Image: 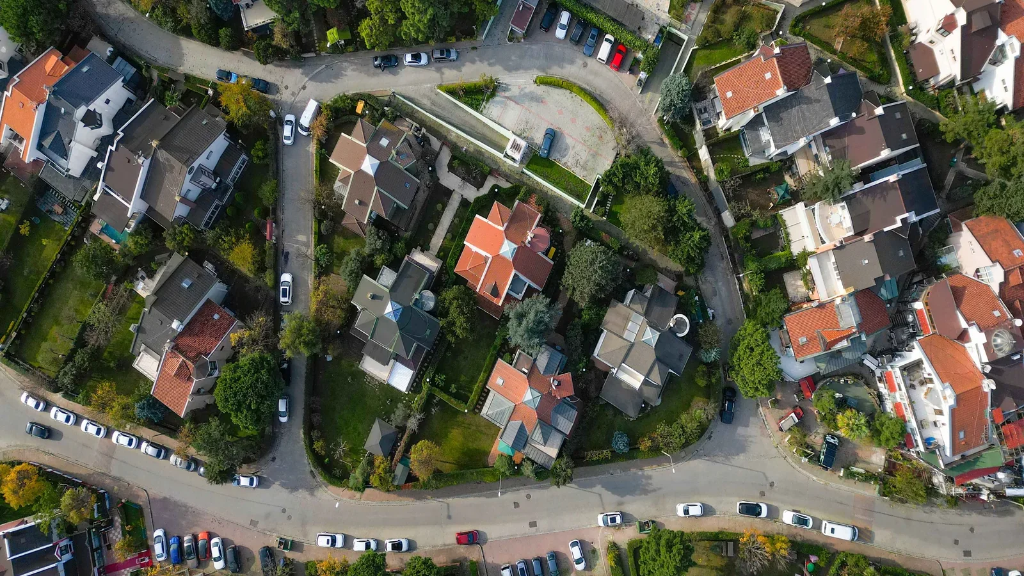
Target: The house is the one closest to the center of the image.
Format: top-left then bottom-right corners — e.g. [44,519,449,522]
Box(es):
[454,200,554,320]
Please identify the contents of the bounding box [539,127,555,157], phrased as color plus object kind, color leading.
blue car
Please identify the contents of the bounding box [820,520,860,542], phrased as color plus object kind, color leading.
white vehicle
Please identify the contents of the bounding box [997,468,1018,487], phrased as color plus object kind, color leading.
gray tent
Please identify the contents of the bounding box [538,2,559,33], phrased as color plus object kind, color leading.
black car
